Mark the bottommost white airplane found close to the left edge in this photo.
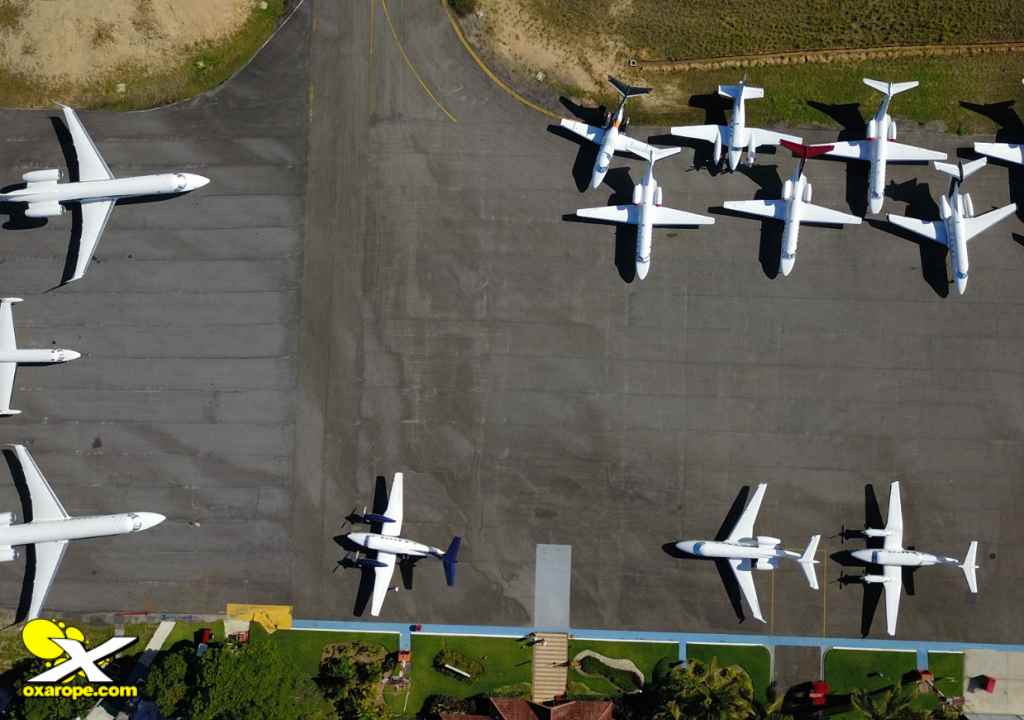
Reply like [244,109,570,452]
[0,446,166,625]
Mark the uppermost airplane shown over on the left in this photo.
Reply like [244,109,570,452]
[0,101,211,280]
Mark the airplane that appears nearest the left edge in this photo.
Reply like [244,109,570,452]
[0,297,81,414]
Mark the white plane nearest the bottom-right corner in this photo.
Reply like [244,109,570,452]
[851,481,979,634]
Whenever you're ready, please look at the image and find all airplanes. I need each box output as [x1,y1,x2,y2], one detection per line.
[810,79,946,213]
[559,75,663,188]
[0,297,81,414]
[577,147,714,280]
[889,158,1017,294]
[0,101,211,280]
[851,481,979,634]
[725,142,861,276]
[671,74,802,170]
[675,483,821,623]
[348,473,461,614]
[0,446,166,625]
